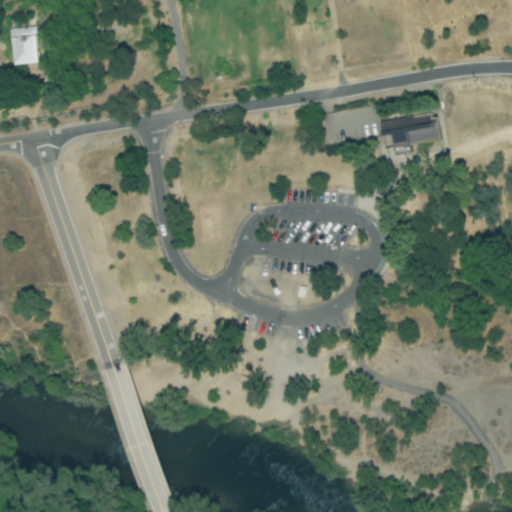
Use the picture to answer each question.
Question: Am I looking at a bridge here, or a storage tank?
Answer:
bridge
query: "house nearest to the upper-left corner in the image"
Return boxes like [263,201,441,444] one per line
[10,26,38,65]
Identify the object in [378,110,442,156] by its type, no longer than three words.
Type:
building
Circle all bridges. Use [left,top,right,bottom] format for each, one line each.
[100,362,172,502]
